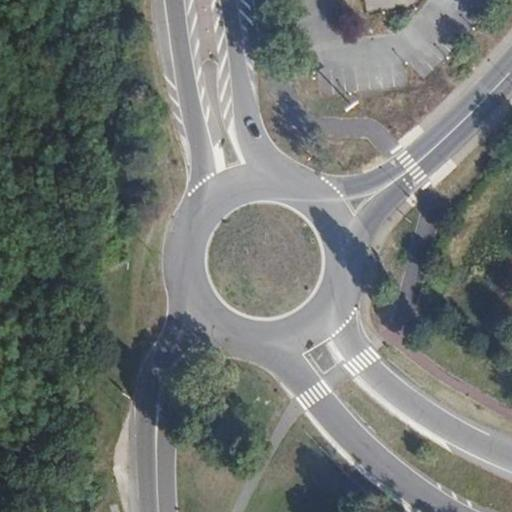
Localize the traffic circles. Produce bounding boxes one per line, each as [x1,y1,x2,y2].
[164,0,374,382]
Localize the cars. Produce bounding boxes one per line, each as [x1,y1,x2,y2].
[244,118,262,139]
